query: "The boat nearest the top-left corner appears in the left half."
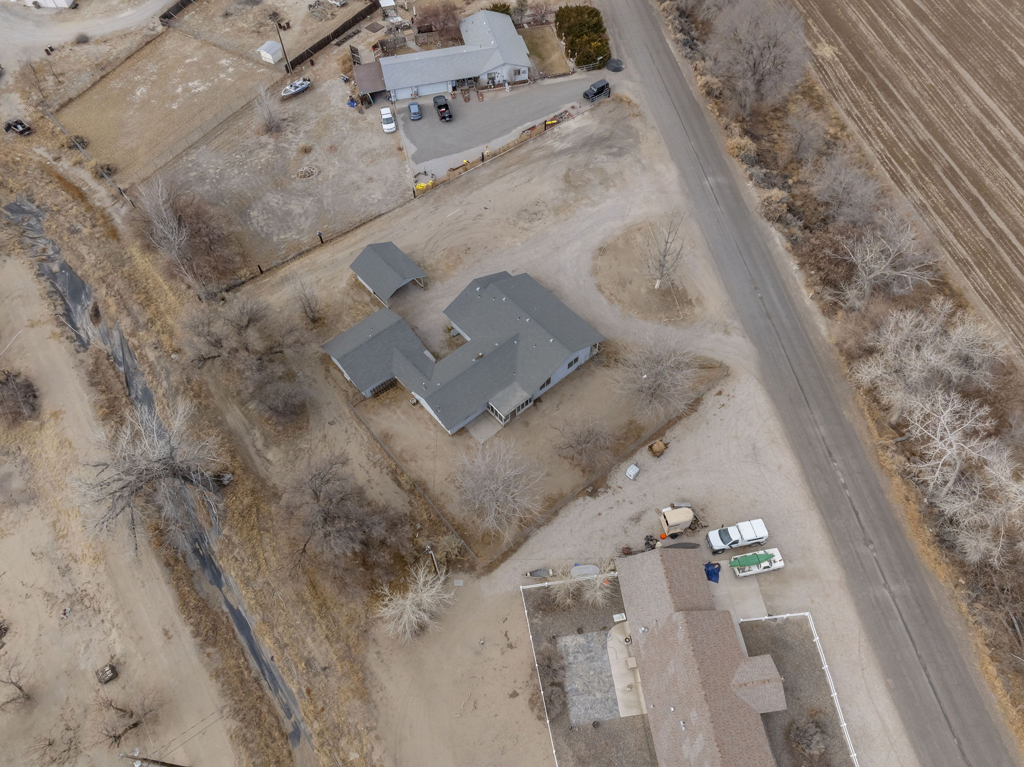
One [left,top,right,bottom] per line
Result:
[274,78,316,102]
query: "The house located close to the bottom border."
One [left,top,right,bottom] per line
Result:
[610,545,779,767]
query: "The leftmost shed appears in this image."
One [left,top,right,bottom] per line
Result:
[256,42,284,67]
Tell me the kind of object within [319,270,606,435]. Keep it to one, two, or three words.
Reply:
house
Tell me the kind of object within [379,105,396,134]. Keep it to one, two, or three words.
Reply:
car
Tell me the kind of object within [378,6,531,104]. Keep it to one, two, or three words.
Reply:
house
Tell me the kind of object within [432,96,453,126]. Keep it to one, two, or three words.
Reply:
truck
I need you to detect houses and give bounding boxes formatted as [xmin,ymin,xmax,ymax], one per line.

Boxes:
[610,545,779,767]
[319,270,606,435]
[378,6,531,104]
